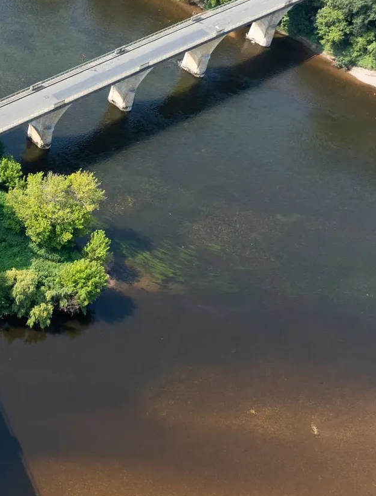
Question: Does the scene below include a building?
No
